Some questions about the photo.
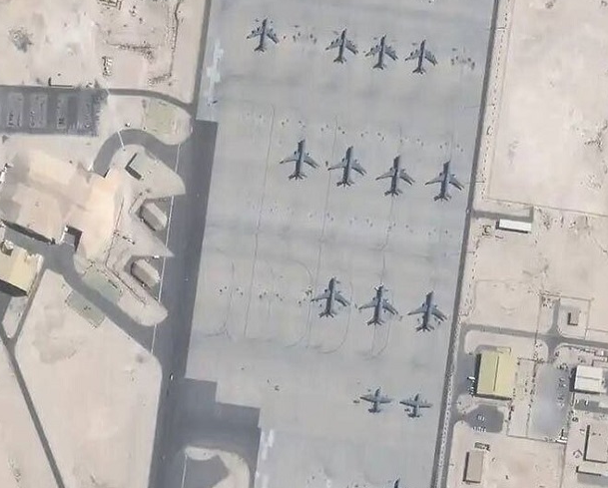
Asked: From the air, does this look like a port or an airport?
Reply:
airport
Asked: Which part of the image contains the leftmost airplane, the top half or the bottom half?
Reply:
top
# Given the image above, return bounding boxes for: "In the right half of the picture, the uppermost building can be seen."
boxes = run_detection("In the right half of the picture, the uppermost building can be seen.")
[499,219,532,232]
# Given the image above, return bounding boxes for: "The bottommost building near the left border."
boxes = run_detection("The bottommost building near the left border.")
[0,241,44,295]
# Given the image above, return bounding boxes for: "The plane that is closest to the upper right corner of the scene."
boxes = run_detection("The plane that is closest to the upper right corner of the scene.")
[408,38,439,71]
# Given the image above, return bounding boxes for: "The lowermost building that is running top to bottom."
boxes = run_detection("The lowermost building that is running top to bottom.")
[466,450,483,483]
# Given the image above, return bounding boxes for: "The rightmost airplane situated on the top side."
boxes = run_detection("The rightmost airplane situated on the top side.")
[429,158,466,198]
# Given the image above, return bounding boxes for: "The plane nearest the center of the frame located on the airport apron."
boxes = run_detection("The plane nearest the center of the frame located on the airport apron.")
[313,275,351,315]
